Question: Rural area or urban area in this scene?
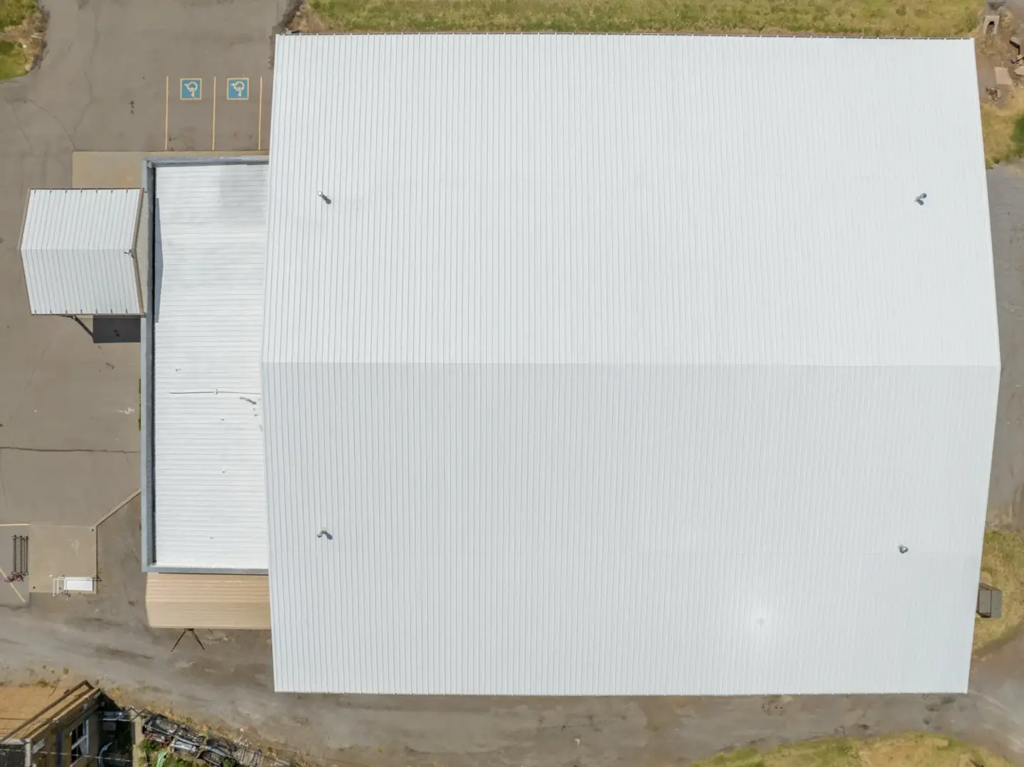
urban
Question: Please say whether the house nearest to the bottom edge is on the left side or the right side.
left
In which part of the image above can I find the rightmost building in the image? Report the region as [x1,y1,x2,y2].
[260,33,1003,694]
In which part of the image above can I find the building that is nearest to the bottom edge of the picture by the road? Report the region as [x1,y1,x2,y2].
[0,681,100,767]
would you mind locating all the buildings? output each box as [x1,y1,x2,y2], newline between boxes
[0,681,100,767]
[260,33,1003,694]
